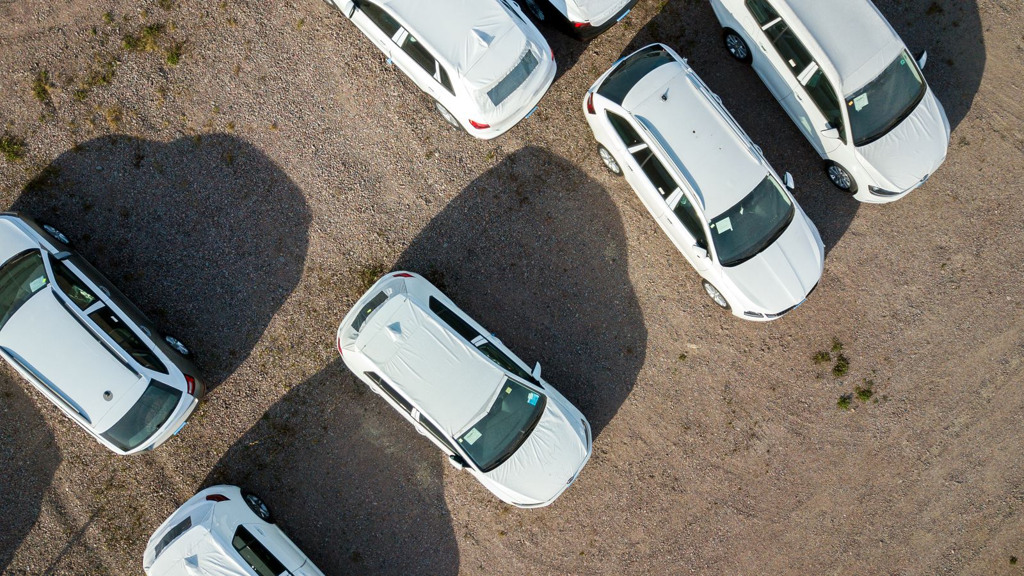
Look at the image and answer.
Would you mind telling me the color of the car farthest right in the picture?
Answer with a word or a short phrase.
white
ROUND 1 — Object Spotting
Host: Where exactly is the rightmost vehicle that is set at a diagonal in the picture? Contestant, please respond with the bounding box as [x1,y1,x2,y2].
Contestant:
[581,44,829,321]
